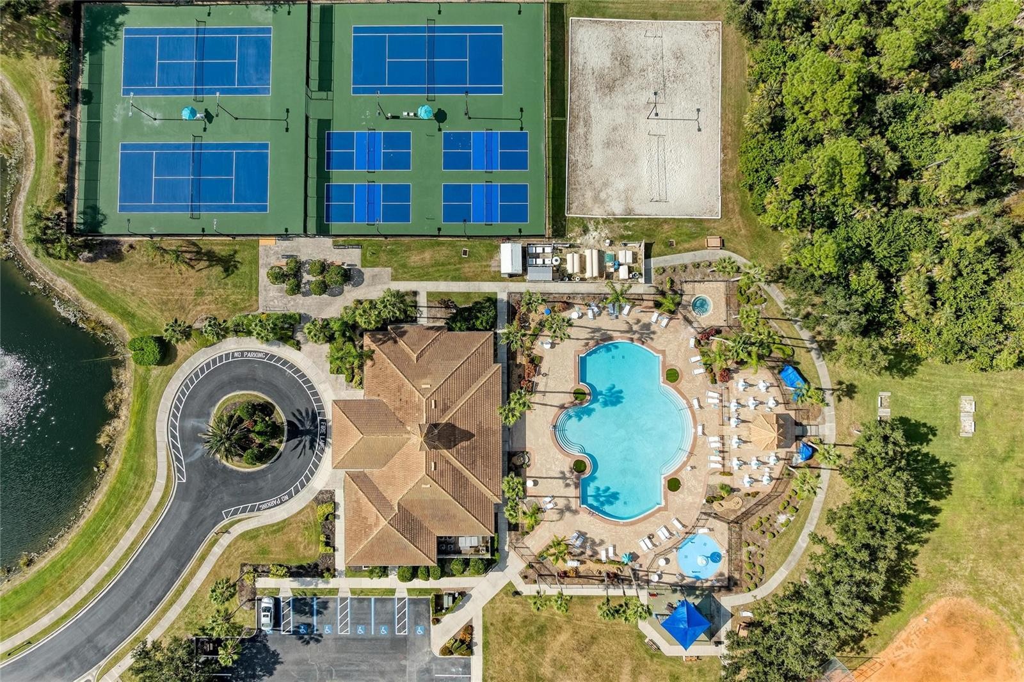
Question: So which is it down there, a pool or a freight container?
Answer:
pool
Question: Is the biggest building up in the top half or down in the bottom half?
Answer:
bottom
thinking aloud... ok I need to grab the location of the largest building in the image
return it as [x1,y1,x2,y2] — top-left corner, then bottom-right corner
[332,325,502,570]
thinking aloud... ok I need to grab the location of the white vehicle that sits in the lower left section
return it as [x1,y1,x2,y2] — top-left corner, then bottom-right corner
[258,599,273,631]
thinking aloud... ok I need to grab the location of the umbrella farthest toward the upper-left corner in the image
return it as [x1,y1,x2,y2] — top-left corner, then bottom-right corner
[183,107,198,121]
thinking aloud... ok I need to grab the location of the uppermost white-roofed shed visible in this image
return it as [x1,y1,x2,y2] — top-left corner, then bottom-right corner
[500,242,522,276]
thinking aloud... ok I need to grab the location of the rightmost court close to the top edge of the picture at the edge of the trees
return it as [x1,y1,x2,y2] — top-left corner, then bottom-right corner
[566,17,723,219]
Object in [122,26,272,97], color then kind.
blue tennis court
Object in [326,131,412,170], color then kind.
blue sports court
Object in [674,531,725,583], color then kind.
blue swimming pool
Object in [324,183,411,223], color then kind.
blue sports court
